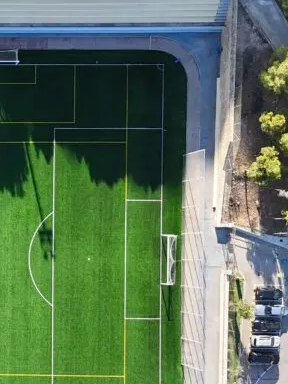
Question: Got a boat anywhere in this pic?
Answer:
No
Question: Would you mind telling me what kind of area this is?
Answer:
sports ground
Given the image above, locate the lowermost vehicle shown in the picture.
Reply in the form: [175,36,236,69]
[248,351,278,365]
